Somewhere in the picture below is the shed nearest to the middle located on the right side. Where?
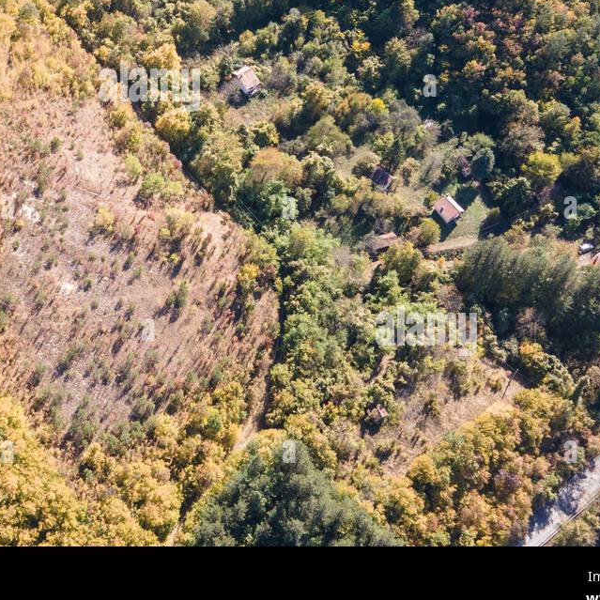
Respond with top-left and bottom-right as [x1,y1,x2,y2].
[365,234,396,259]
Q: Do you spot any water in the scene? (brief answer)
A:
No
